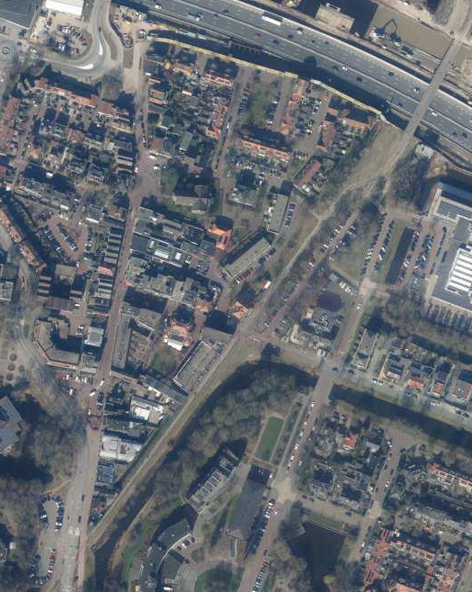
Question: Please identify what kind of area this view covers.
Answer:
residential area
